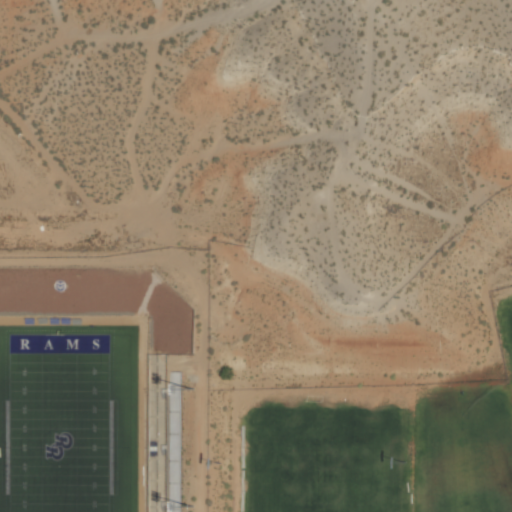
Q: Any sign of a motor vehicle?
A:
No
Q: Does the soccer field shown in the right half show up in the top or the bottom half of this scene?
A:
bottom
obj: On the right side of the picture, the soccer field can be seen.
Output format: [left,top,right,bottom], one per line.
[244,398,414,512]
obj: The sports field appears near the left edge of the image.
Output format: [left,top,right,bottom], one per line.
[0,325,140,512]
